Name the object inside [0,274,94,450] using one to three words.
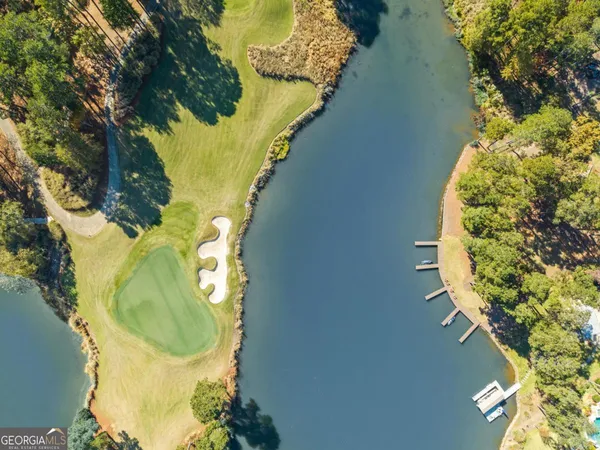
pond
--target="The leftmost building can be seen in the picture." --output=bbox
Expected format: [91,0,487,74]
[471,379,509,415]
